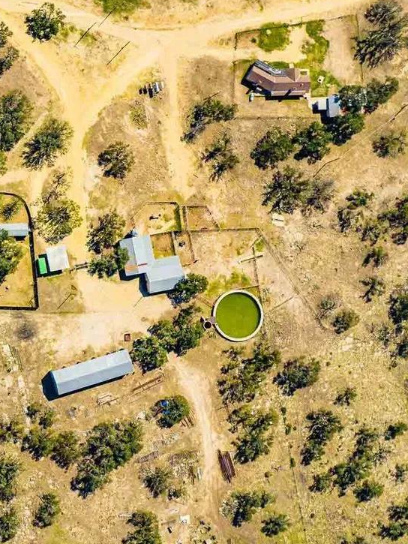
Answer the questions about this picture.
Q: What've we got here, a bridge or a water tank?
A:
water tank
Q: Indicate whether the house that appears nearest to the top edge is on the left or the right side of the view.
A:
right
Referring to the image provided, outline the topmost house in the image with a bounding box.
[243,59,312,97]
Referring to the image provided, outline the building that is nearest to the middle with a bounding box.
[145,255,187,295]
